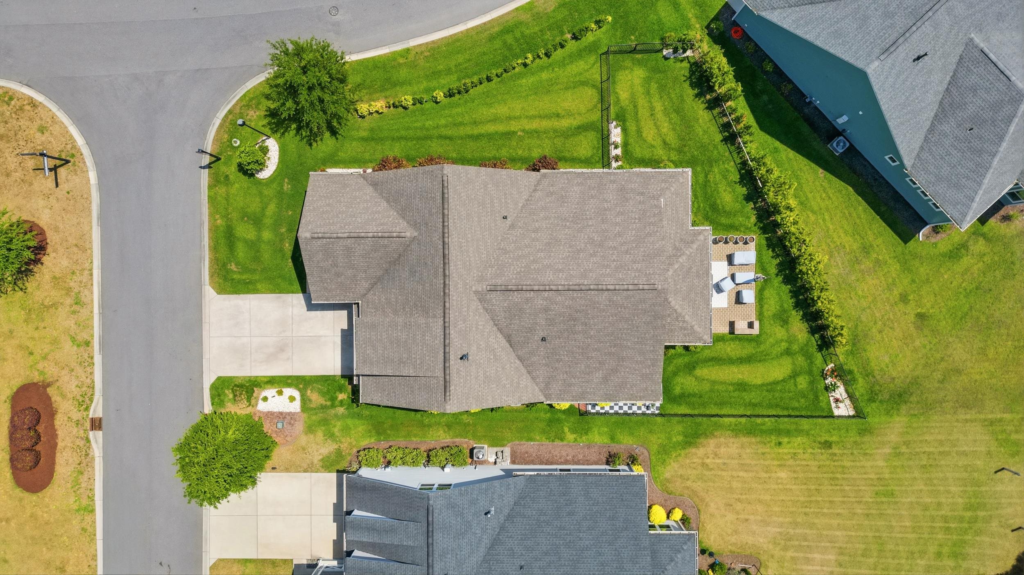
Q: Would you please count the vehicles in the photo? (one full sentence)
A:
The photo contains no vehicles.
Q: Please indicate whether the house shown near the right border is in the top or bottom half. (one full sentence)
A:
It is in the top half that the house shown near the right border appears.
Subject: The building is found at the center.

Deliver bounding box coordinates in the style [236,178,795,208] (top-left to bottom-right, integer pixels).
[299,165,714,413]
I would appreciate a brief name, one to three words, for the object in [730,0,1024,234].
house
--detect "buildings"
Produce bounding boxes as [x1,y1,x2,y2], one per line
[299,165,714,413]
[342,464,700,575]
[730,0,1024,234]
